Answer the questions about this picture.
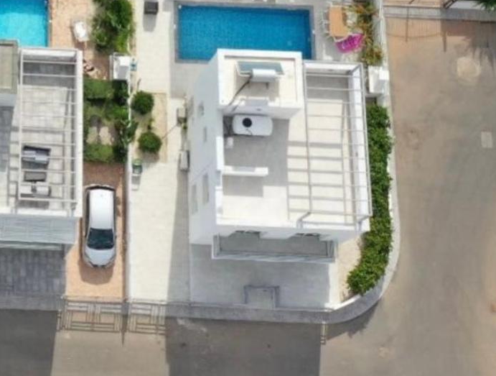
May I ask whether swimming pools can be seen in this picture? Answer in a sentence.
Yes, a swimming pool is visible in the scene.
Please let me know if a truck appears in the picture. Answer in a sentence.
No, no truck can be seen from above.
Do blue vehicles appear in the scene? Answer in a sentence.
No, there is no blue vehicle in the image.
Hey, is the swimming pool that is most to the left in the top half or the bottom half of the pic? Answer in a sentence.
You can find the swimming pool that is most to the left in the top half.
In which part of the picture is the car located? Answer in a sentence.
The car is located in the left region of the scene.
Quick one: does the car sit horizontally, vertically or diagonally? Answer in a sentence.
What the image shows is the car lying vertically.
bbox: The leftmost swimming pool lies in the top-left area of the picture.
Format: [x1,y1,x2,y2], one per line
[0,0,53,49]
